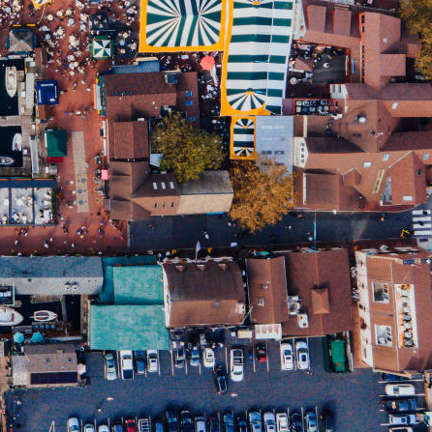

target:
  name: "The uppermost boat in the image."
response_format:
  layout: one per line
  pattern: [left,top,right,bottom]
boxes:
[5,66,17,98]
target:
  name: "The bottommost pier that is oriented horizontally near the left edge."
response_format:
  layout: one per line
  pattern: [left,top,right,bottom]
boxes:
[0,323,83,348]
